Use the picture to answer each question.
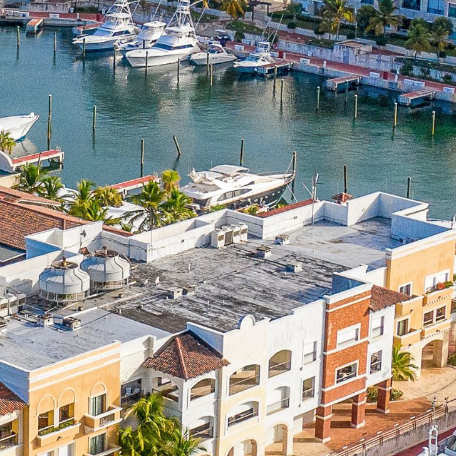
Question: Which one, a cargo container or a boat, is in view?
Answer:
boat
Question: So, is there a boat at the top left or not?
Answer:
Yes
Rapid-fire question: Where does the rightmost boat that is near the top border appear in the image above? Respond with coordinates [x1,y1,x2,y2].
[227,12,297,75]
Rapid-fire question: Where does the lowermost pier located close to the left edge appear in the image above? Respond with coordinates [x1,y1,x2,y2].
[0,143,66,172]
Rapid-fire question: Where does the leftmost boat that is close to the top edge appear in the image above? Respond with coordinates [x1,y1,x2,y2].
[66,0,141,48]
